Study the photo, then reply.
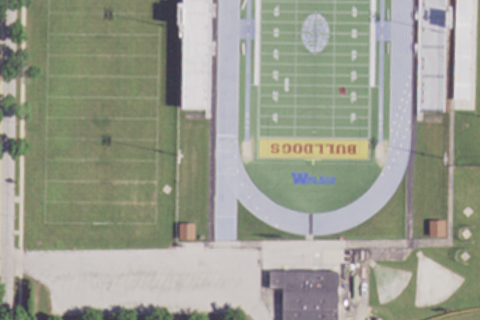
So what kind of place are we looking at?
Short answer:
sports ground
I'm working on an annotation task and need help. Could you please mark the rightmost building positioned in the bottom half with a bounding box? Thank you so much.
[430,220,447,238]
